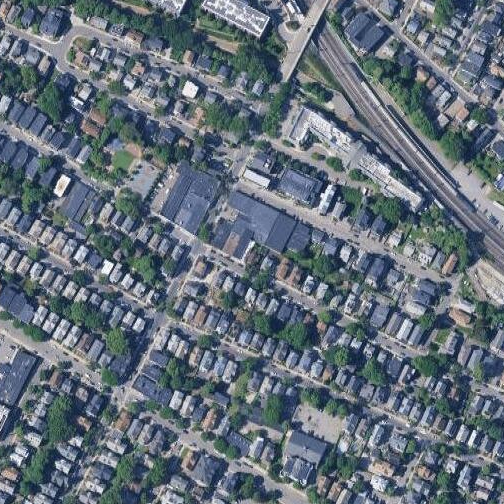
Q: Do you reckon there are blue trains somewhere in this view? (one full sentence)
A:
No, I can't see a single blue train in this photo.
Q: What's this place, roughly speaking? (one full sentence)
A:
What you see here is a residential area.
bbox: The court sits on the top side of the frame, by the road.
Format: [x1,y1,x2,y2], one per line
[130,161,160,199]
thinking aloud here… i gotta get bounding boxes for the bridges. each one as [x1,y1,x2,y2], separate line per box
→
[280,0,331,84]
